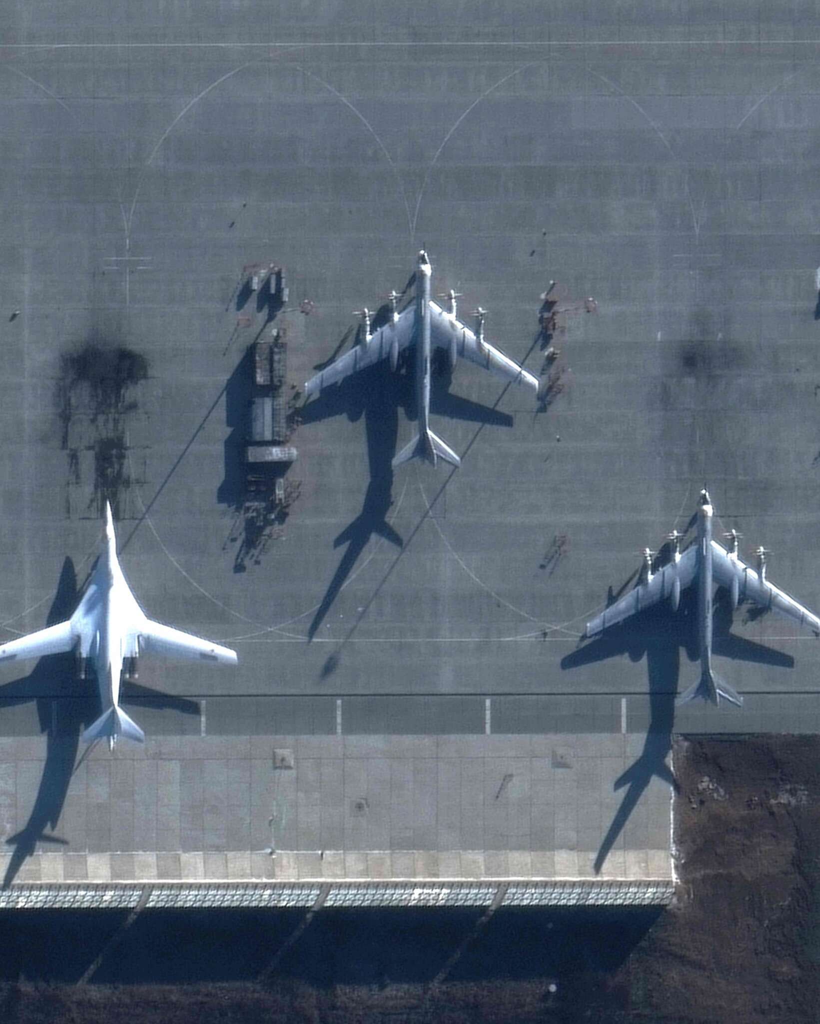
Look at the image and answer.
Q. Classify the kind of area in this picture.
airport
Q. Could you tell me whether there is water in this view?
No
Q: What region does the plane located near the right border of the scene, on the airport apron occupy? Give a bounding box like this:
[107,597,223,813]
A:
[588,482,820,714]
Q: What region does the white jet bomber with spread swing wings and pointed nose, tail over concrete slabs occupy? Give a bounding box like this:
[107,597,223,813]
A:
[0,500,237,750]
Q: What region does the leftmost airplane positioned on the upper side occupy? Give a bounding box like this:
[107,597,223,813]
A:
[305,249,539,470]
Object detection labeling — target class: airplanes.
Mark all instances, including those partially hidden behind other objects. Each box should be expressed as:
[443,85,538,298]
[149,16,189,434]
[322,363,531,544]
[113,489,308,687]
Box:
[588,482,820,714]
[305,249,539,470]
[0,500,237,750]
